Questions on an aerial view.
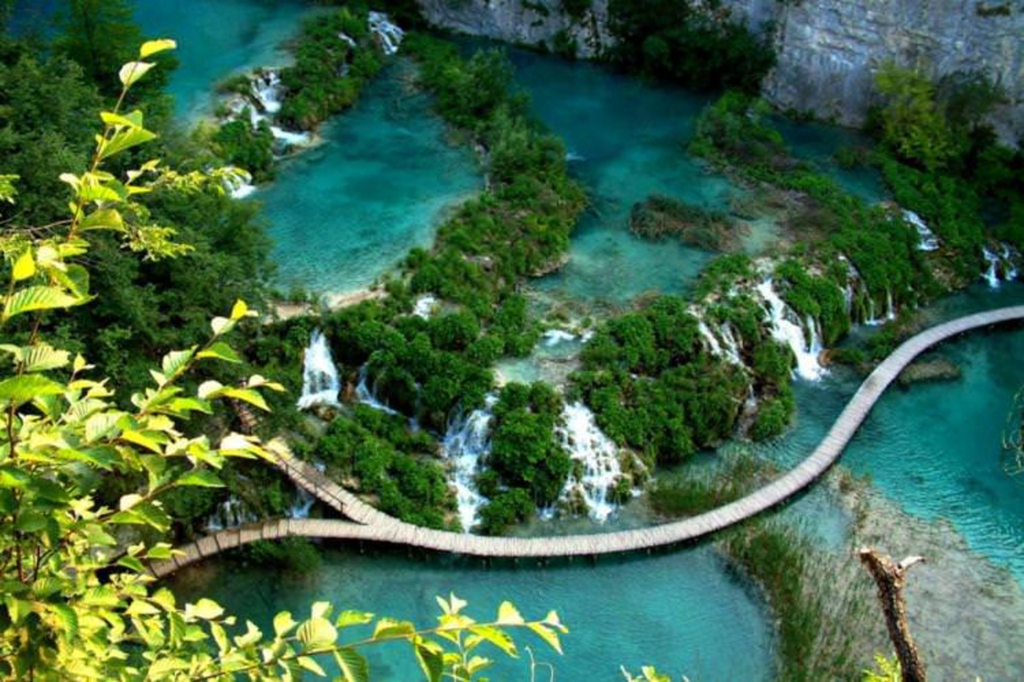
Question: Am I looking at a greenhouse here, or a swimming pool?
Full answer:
The one in the frame is a swimming pool.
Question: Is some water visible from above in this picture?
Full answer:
Yes, there is water in the image.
